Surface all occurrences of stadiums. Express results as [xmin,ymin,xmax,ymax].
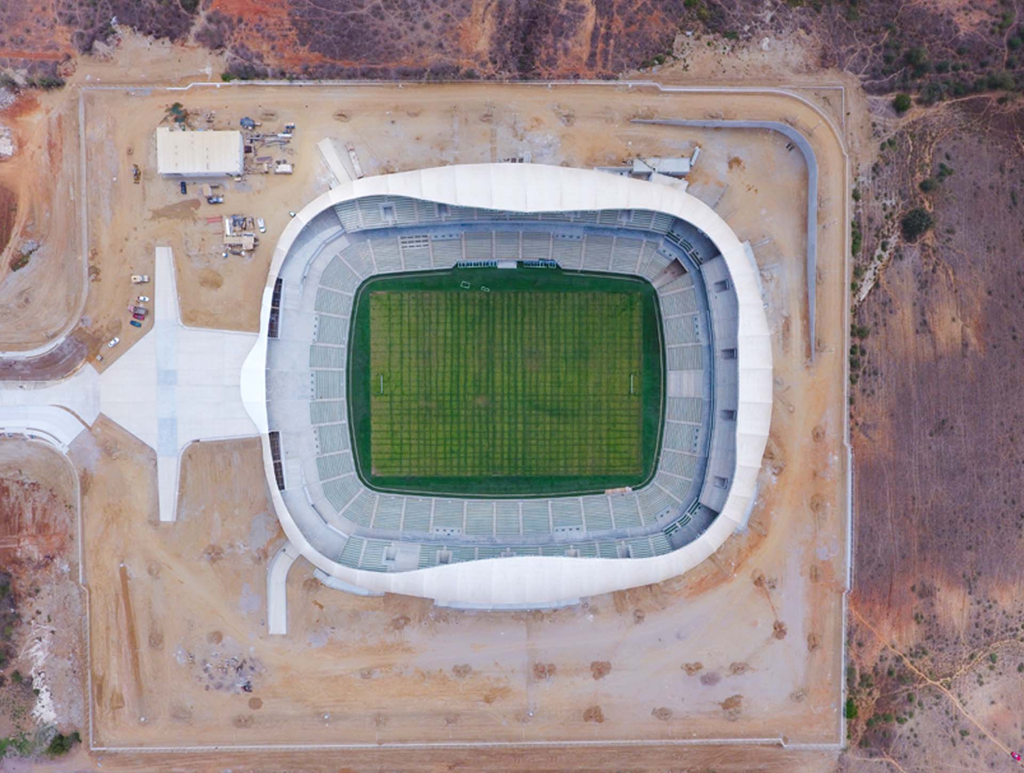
[240,163,773,611]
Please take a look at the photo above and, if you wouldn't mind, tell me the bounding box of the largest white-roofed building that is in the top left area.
[157,127,246,177]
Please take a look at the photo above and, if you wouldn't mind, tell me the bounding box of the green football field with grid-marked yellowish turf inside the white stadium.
[346,263,667,502]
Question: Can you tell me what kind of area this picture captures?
sports ground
